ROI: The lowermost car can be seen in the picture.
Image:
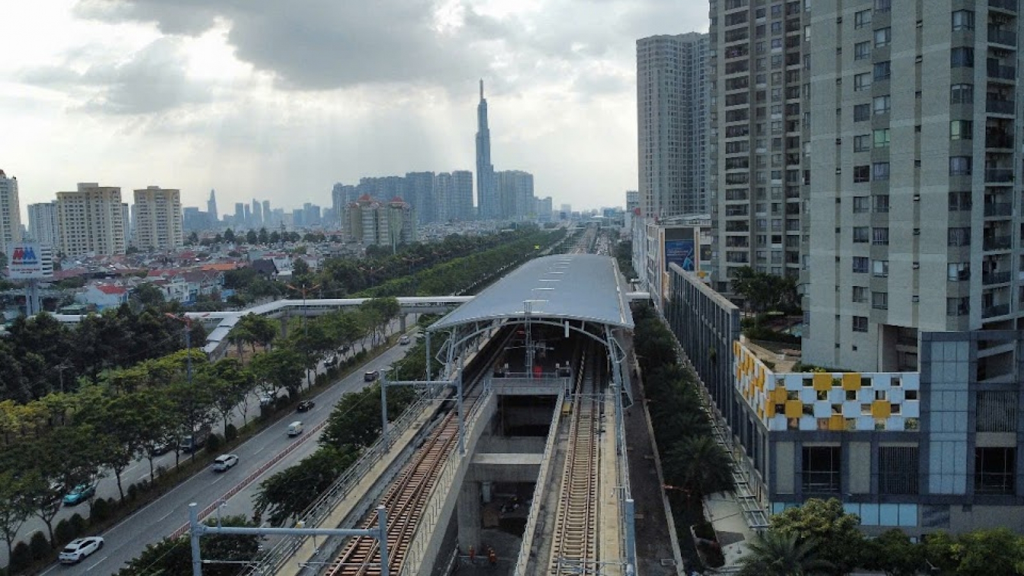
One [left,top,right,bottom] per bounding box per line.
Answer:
[80,532,120,553]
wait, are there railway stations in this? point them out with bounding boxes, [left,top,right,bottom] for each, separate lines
[428,253,637,445]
